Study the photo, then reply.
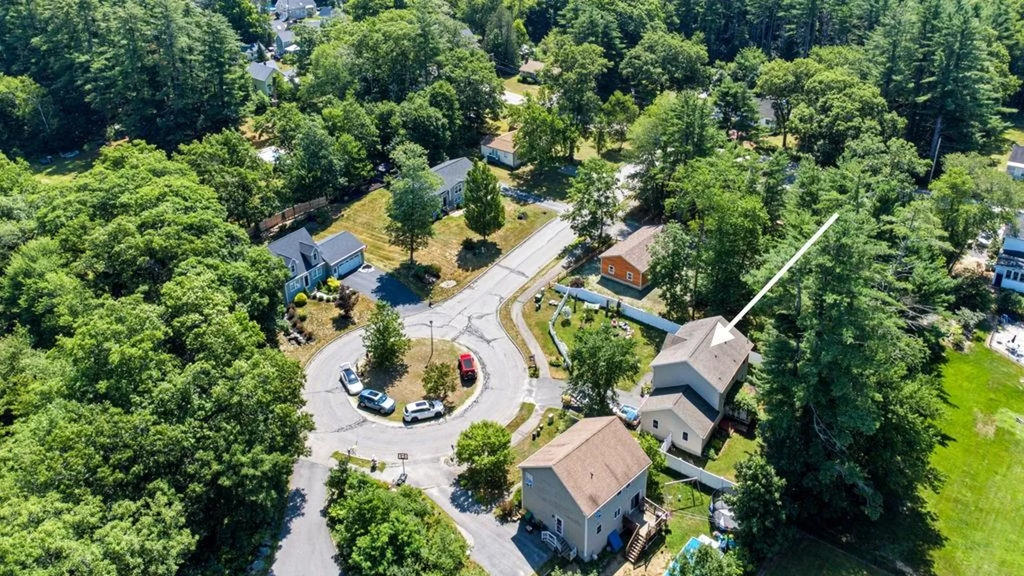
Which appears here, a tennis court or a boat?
boat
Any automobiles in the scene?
Yes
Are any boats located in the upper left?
No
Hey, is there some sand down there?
No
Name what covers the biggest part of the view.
trees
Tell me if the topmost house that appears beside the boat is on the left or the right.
right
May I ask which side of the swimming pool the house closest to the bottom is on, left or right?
to its left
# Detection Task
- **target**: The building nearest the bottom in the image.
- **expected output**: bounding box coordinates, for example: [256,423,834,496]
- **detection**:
[518,415,677,562]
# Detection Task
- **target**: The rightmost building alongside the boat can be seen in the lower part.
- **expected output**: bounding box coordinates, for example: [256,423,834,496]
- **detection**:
[638,314,769,456]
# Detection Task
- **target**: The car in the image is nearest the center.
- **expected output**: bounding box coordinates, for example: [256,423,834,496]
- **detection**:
[457,354,477,380]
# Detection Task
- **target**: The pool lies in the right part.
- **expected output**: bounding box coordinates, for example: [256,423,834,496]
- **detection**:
[666,538,730,576]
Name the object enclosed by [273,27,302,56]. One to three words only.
house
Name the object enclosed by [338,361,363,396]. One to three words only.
car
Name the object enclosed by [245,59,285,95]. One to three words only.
building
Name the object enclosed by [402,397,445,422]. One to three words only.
car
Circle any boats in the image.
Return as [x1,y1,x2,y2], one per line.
[607,398,642,429]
